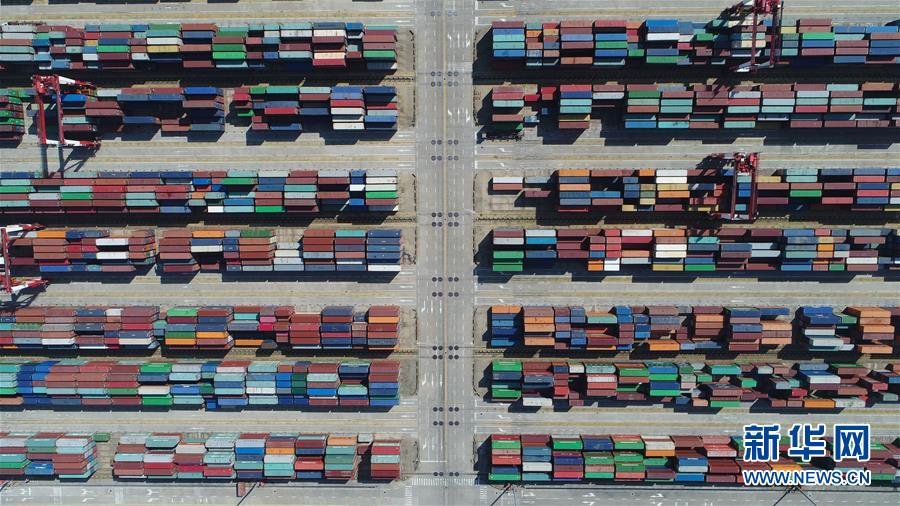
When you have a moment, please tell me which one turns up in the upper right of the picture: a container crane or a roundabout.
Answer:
container crane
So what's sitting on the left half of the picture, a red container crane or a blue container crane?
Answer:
red container crane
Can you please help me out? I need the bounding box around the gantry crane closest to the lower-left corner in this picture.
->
[0,223,49,292]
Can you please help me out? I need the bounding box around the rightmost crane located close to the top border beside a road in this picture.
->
[722,0,780,73]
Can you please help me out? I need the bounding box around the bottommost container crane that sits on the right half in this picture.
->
[705,153,760,221]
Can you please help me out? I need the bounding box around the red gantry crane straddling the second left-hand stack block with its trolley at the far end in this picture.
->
[32,75,100,146]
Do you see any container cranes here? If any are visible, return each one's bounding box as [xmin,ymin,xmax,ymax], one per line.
[705,153,760,221]
[0,223,49,292]
[722,0,780,73]
[32,75,100,146]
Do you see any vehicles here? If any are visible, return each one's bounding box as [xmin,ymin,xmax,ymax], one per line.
[482,133,521,139]
[0,20,46,27]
